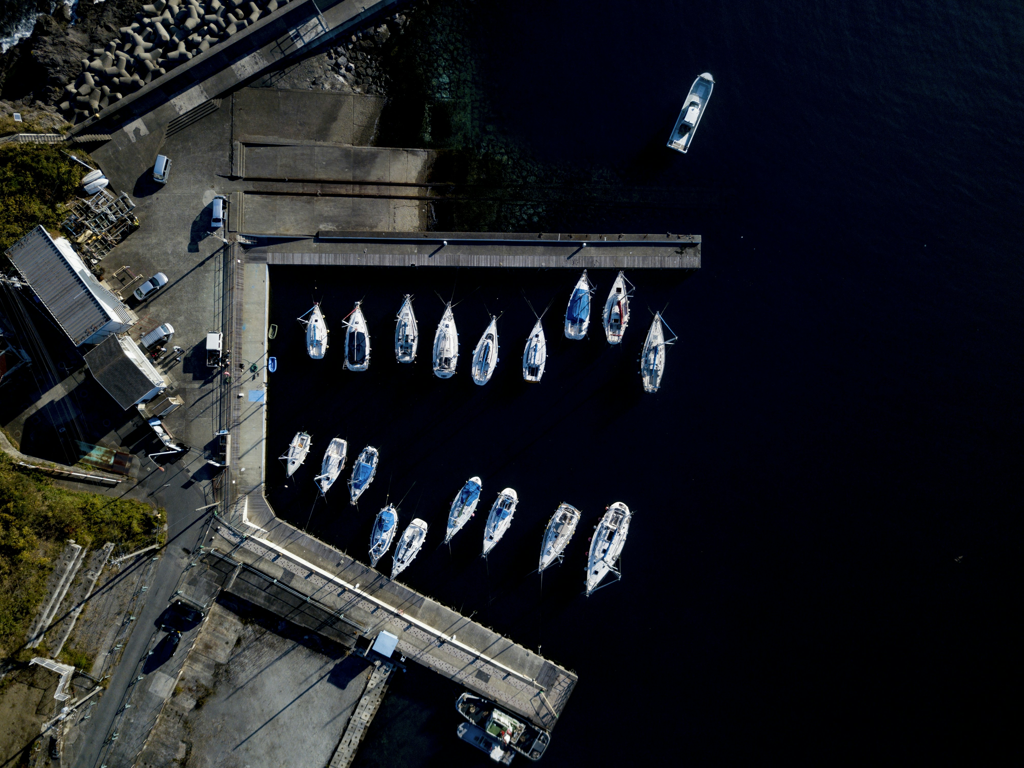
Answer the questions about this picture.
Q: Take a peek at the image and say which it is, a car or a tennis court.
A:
car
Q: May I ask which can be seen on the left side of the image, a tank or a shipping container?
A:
shipping container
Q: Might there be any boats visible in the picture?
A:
Yes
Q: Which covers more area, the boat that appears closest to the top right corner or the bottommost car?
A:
the boat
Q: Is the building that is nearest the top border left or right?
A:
left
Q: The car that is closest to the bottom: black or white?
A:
black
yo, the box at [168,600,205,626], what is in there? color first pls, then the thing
black car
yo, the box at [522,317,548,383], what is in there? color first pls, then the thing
white boat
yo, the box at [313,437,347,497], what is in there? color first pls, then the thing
white boat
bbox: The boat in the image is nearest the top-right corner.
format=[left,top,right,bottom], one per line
[667,72,716,155]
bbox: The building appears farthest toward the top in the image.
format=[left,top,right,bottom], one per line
[0,224,152,349]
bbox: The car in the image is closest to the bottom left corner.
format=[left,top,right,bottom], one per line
[156,630,183,666]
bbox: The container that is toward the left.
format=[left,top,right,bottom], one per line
[74,440,135,475]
